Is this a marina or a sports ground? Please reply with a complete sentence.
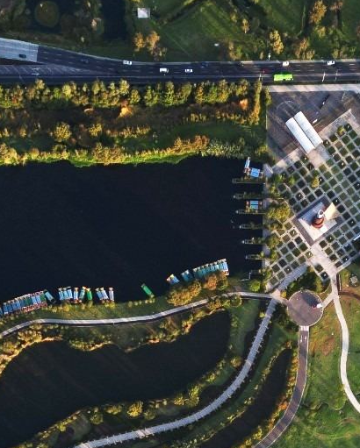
What you see here is a marina.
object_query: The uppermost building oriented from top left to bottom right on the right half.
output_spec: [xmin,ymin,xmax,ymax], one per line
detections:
[284,108,329,152]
